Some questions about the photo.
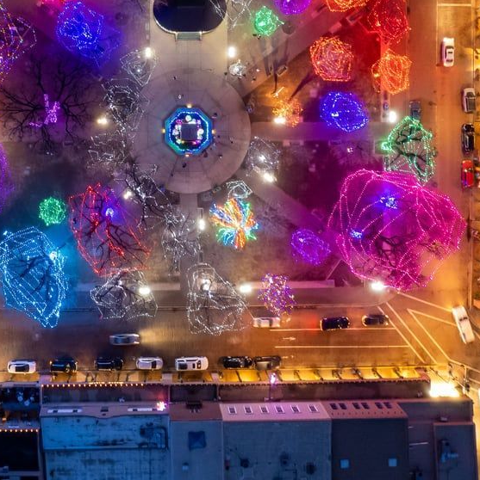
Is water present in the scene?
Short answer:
No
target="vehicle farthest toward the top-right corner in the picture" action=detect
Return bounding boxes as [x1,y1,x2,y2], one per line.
[441,34,457,68]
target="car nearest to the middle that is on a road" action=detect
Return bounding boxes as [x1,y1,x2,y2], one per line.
[252,315,281,329]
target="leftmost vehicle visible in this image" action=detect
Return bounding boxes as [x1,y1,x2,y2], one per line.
[7,360,36,375]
